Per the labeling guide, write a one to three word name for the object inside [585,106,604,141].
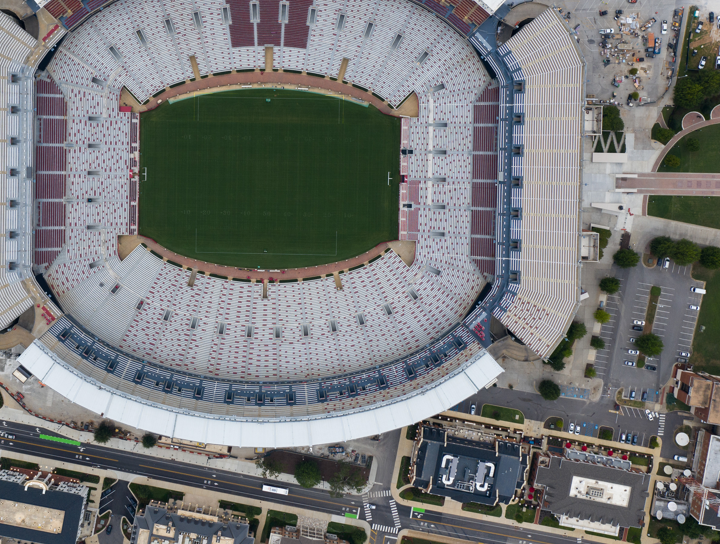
building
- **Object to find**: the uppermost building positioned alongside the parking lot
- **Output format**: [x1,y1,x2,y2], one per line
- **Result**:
[583,232,600,267]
